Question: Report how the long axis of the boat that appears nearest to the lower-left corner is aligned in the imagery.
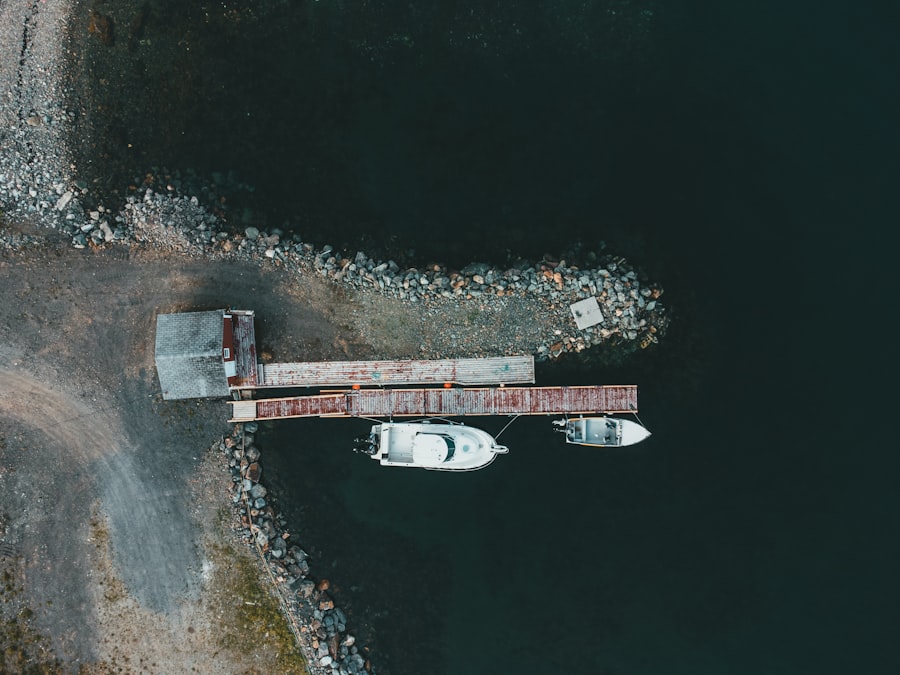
from side to side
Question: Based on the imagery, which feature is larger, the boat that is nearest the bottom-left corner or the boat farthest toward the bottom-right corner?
the boat that is nearest the bottom-left corner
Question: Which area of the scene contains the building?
left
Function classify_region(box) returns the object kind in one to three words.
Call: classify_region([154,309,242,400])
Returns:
building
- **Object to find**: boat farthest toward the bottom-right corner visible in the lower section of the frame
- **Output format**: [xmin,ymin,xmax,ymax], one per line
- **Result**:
[548,417,652,446]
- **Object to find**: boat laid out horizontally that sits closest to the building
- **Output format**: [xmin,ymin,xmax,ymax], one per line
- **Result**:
[357,423,510,473]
